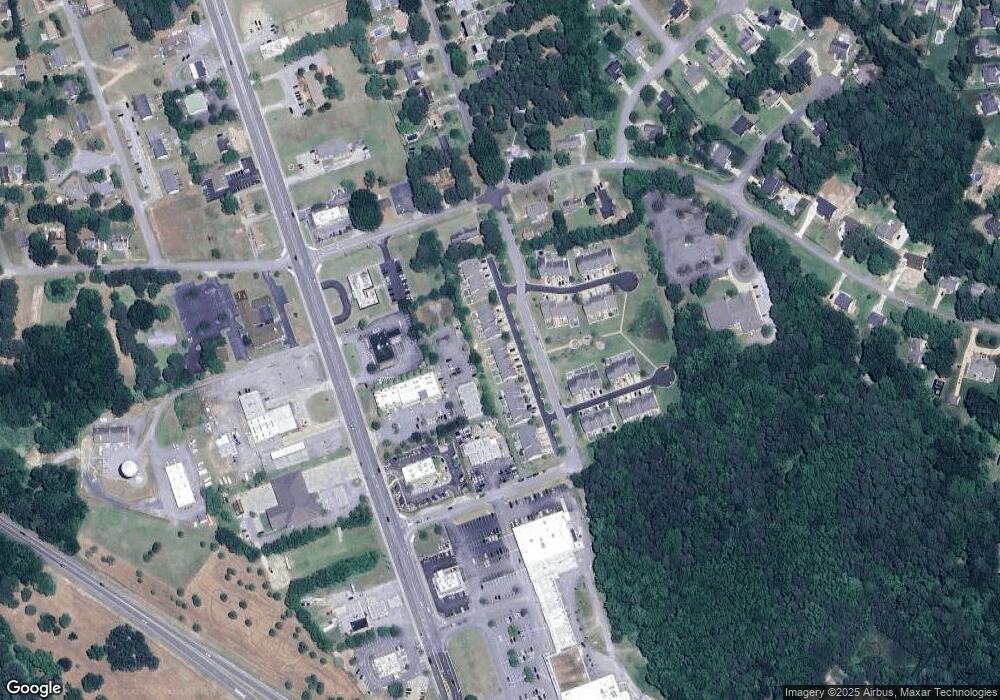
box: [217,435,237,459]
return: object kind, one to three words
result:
shed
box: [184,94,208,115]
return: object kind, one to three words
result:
barn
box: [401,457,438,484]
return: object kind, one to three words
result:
building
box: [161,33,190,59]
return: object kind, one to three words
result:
house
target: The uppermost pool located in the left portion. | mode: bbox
[369,24,389,38]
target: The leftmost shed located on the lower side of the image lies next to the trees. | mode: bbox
[93,427,129,442]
